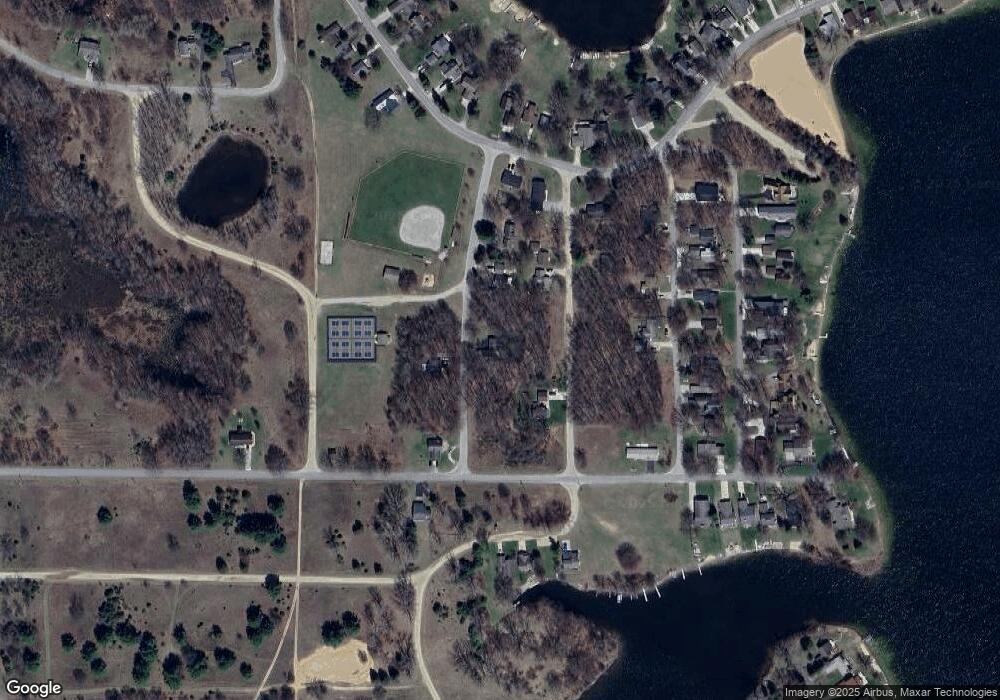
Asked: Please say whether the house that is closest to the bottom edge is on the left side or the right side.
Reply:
right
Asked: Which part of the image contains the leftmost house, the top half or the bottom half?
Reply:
top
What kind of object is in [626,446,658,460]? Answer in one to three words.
shed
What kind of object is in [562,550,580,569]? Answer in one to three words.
house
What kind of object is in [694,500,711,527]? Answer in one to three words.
house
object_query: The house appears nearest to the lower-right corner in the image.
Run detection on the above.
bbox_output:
[836,671,862,694]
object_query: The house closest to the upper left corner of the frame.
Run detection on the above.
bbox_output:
[78,41,99,62]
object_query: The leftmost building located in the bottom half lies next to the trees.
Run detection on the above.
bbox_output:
[229,432,252,445]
